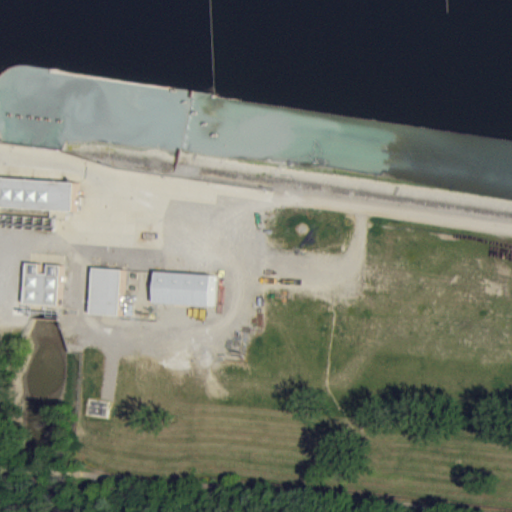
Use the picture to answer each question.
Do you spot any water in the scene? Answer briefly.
Yes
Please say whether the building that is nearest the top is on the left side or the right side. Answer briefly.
left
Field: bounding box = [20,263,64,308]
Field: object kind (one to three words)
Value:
house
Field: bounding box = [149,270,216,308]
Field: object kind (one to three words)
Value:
shed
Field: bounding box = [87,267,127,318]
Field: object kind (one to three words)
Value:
building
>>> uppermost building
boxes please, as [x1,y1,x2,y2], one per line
[0,178,78,213]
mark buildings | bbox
[87,267,127,318]
[149,270,216,308]
[20,263,64,308]
[0,178,78,213]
